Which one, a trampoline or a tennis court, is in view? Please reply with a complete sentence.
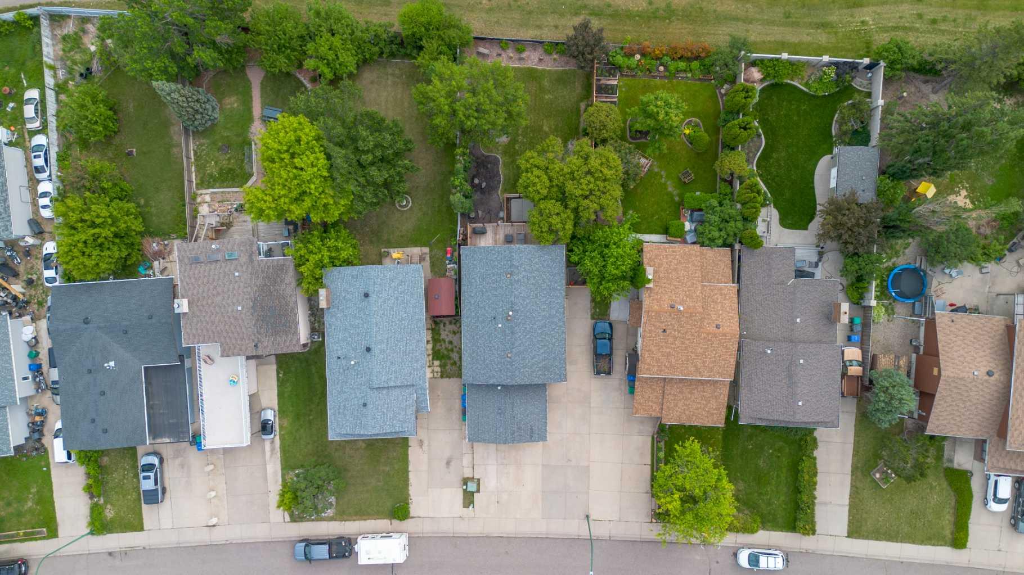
It is a trampoline that can be seen here.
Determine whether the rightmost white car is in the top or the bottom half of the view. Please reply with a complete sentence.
The rightmost white car is in the bottom half of the image.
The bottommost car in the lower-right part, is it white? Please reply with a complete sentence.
Yes, the bottommost car in the lower-right part appears white.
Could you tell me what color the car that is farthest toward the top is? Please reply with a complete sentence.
In this view, the car that is farthest toward the top is white.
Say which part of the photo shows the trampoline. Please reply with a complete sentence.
The trampoline is in the right part of the image.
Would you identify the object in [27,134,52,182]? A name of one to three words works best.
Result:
car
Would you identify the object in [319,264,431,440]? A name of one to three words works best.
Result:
house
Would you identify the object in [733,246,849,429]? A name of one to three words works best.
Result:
house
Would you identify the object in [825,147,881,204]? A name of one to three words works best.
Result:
shed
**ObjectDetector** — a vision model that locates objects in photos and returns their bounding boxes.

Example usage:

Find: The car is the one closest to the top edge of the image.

[19,88,46,132]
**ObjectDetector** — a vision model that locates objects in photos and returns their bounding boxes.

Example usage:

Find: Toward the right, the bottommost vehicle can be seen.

[735,546,786,572]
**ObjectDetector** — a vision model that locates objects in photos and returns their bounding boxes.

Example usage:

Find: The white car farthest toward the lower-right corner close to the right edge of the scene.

[985,474,1013,512]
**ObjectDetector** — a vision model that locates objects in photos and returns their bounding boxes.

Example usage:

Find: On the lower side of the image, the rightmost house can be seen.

[915,294,1024,476]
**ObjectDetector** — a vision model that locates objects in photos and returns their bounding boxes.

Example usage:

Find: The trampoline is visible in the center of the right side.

[887,264,931,302]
